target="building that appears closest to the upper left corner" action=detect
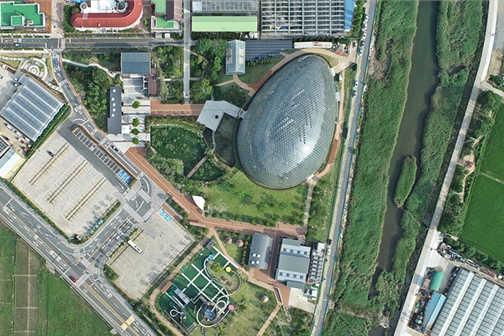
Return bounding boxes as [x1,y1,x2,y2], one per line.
[0,2,48,33]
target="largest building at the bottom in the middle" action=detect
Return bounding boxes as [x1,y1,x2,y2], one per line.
[275,238,310,288]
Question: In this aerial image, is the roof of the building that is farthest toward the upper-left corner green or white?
green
